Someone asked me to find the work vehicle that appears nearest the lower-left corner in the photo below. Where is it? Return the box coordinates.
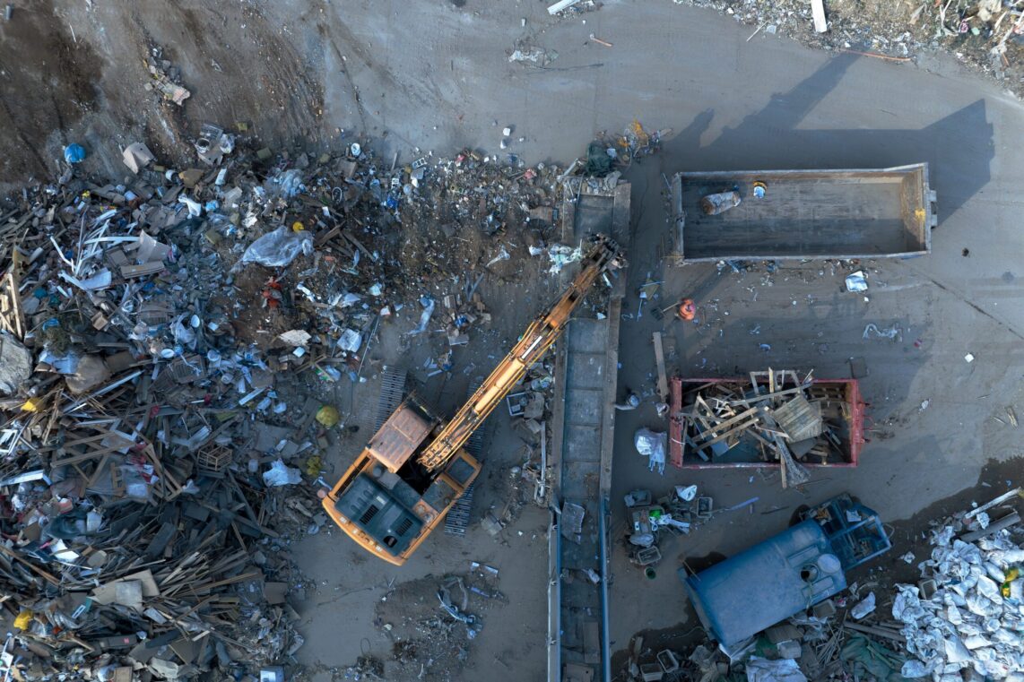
[322,227,630,567]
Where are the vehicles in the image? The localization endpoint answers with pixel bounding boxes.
[322,227,630,567]
[673,487,897,647]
